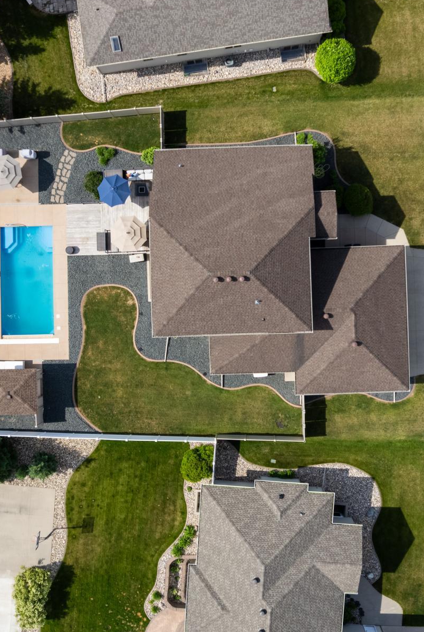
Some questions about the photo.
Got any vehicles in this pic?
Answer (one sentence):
No, I find no vehicle anywhere in the image.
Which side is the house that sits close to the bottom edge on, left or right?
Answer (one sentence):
You can find the house that sits close to the bottom edge on the right side of the picture.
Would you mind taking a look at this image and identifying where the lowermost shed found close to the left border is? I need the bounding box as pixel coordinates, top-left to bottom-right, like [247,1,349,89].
[0,364,48,416]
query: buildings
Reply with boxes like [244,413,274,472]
[0,364,48,416]
[147,144,410,395]
[184,472,382,632]
[77,0,332,75]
